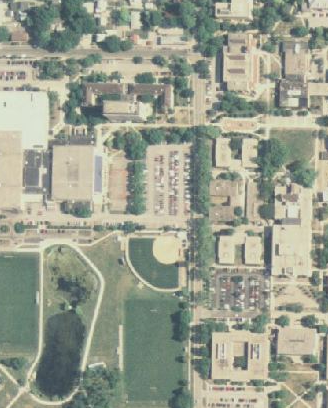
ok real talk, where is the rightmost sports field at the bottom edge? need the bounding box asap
[124,296,184,402]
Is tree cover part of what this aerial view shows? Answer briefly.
Yes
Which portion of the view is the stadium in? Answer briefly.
left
